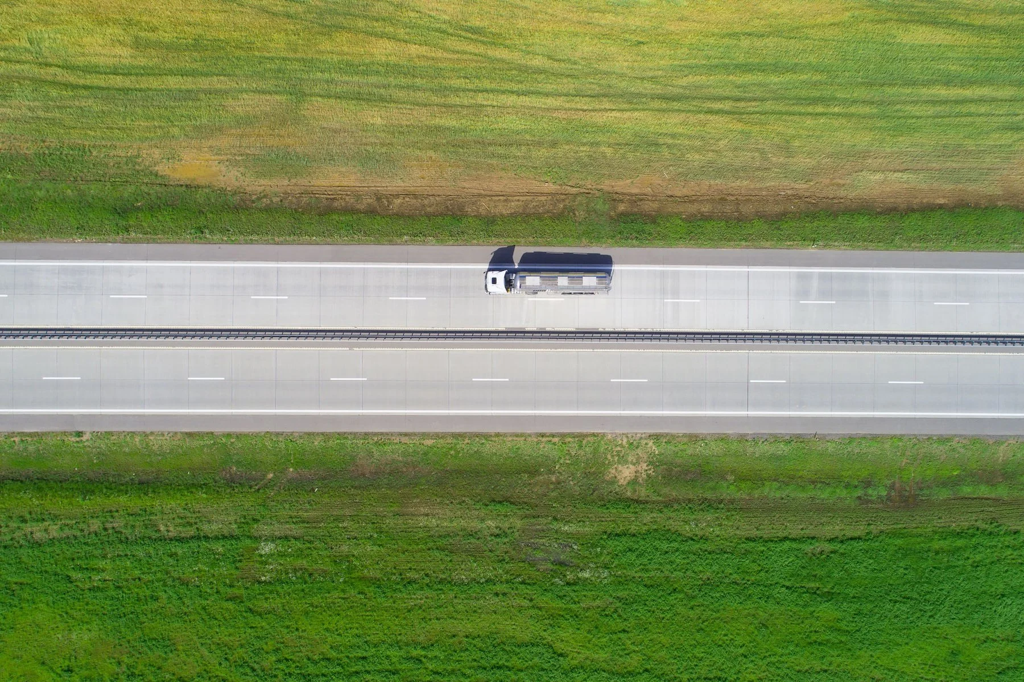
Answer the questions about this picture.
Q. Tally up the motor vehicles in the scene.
1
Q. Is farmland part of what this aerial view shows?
Yes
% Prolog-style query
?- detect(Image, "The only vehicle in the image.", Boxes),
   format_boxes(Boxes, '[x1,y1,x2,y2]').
[484,268,612,296]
